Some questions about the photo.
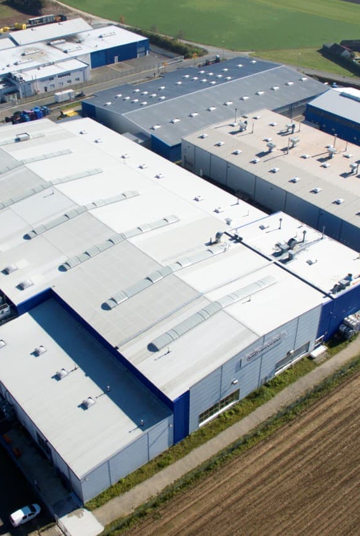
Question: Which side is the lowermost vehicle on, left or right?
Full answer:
The lowermost vehicle is on the left side of the image.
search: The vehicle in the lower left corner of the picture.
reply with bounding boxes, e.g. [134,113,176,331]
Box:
[5,500,45,528]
